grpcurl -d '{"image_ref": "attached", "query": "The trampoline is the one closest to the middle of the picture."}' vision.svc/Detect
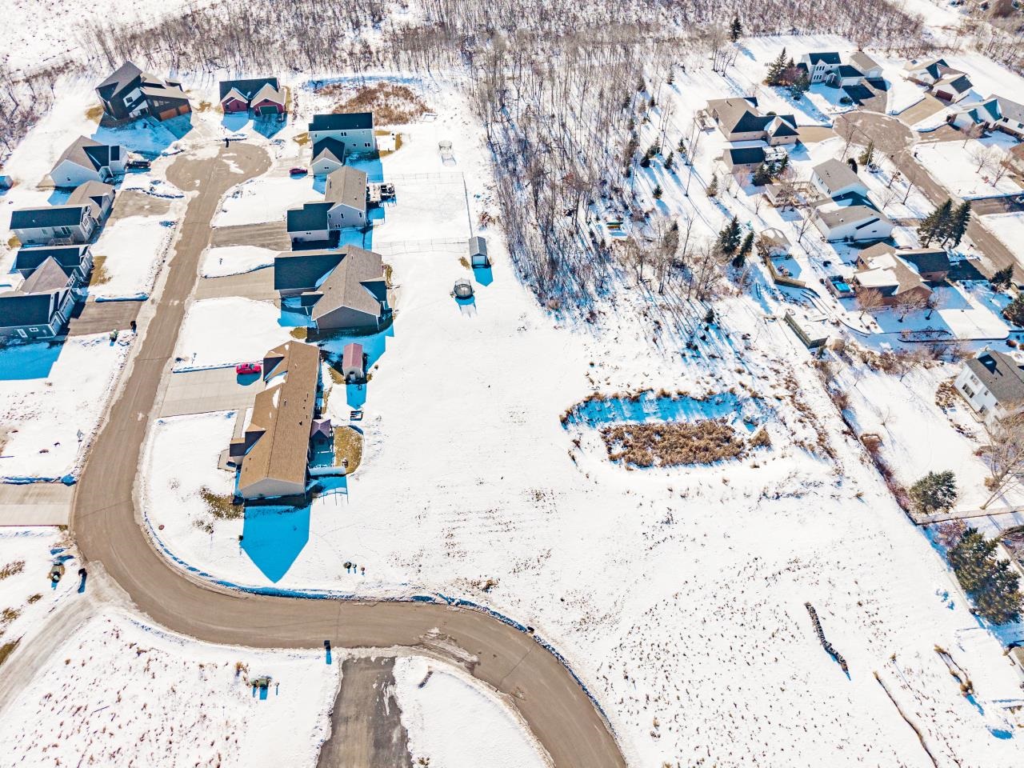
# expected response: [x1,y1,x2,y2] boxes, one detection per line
[452,281,473,301]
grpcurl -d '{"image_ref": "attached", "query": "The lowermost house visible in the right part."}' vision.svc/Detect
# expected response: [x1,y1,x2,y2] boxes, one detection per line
[954,345,1024,434]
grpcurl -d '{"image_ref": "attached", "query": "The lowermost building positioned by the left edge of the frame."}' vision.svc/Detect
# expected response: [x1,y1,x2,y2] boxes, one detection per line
[0,245,101,339]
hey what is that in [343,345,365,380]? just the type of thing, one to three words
shed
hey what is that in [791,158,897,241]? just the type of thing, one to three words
house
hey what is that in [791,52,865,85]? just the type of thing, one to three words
house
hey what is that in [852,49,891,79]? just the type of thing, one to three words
building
